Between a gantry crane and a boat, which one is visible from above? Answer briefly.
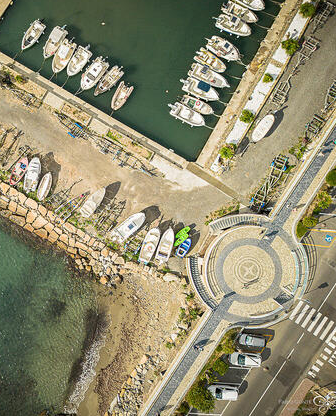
boat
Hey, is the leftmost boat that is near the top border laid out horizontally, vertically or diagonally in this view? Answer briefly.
diagonally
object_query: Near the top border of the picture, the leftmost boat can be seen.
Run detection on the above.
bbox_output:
[13,16,46,63]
